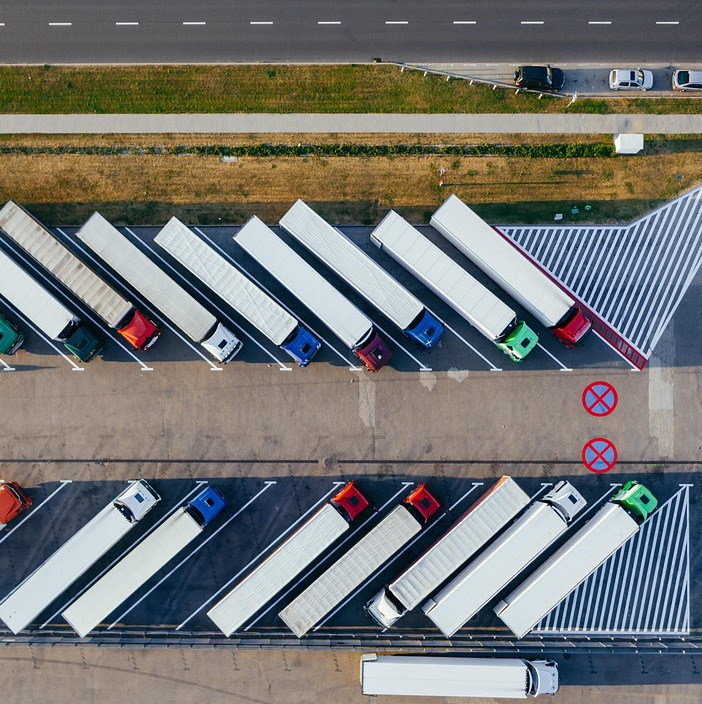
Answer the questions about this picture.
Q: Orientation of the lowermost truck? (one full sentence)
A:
The lowermost truck has been laid out from side to side relative to the frame.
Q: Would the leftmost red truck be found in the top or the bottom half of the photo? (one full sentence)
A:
It is in the bottom half that the leftmost red truck appears.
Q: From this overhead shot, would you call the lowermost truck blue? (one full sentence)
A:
No, the lowermost truck is white.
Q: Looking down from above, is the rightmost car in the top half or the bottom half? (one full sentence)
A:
The top half of the photo is where the rightmost car is.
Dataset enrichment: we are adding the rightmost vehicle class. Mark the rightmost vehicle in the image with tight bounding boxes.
[670,68,702,94]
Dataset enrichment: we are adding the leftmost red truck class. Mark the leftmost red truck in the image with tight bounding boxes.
[0,481,40,540]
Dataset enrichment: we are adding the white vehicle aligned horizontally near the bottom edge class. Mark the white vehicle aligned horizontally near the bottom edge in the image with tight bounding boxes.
[359,652,553,698]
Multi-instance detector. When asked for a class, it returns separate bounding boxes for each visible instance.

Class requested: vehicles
[490,482,657,639]
[359,652,553,698]
[278,199,445,352]
[607,65,653,93]
[363,474,531,628]
[426,193,593,349]
[207,481,371,637]
[61,481,230,638]
[670,68,702,94]
[421,479,586,638]
[233,215,396,372]
[153,216,323,368]
[368,209,537,362]
[278,482,442,639]
[0,199,163,353]
[0,248,107,367]
[0,481,40,540]
[75,211,245,368]
[0,475,164,634]
[514,64,565,93]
